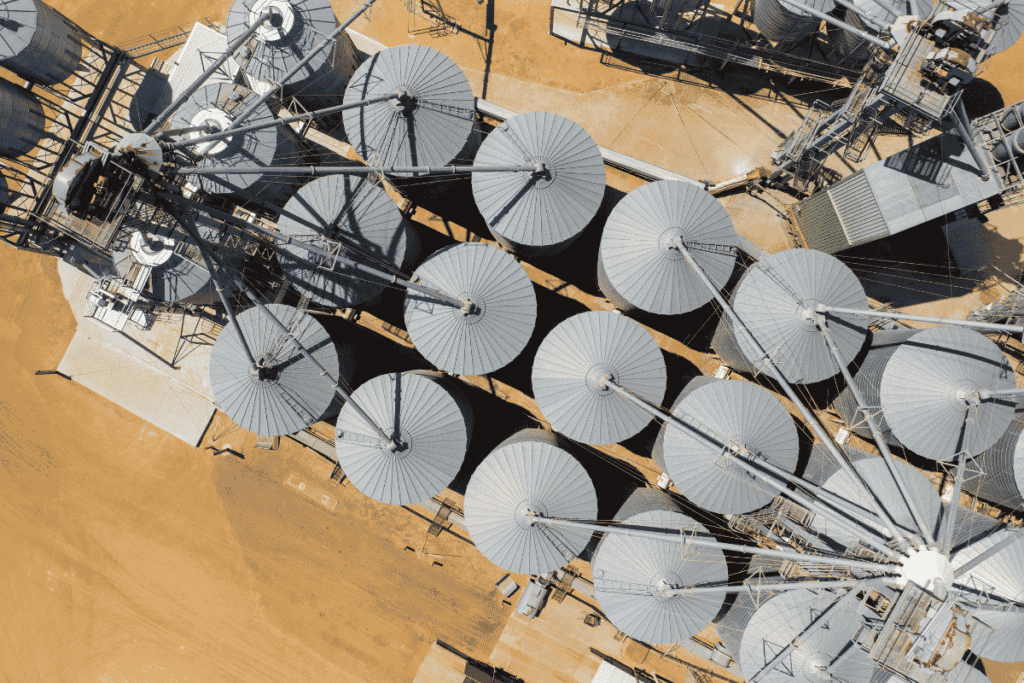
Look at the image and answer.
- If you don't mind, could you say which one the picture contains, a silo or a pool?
silo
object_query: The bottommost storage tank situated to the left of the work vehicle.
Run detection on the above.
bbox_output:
[516,571,563,619]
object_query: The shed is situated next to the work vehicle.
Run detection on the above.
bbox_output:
[586,645,665,683]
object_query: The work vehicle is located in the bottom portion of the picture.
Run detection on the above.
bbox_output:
[575,612,604,633]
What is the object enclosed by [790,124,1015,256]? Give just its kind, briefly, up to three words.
shed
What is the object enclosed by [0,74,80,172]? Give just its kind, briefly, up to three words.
silo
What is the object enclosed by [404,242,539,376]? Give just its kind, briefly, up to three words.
silo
